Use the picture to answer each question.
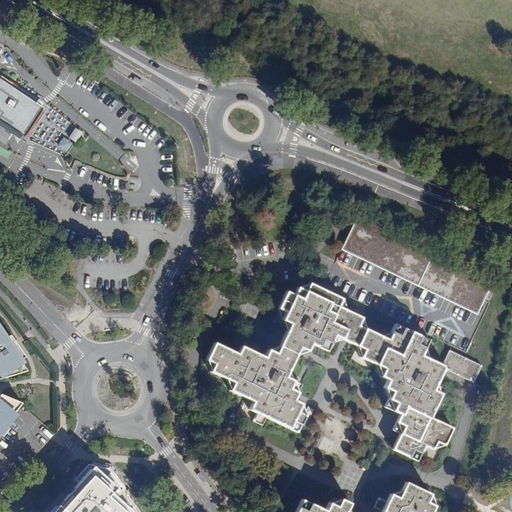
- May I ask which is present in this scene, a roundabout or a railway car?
roundabout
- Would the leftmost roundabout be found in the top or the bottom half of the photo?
bottom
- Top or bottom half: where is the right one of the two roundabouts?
top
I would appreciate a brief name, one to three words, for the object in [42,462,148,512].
building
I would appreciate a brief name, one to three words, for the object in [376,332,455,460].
building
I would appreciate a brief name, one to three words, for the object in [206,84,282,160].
roundabout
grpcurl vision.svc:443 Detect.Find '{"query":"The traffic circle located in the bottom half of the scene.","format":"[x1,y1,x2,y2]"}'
[75,345,160,433]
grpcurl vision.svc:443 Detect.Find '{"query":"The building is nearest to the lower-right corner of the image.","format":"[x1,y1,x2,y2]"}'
[377,481,438,512]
